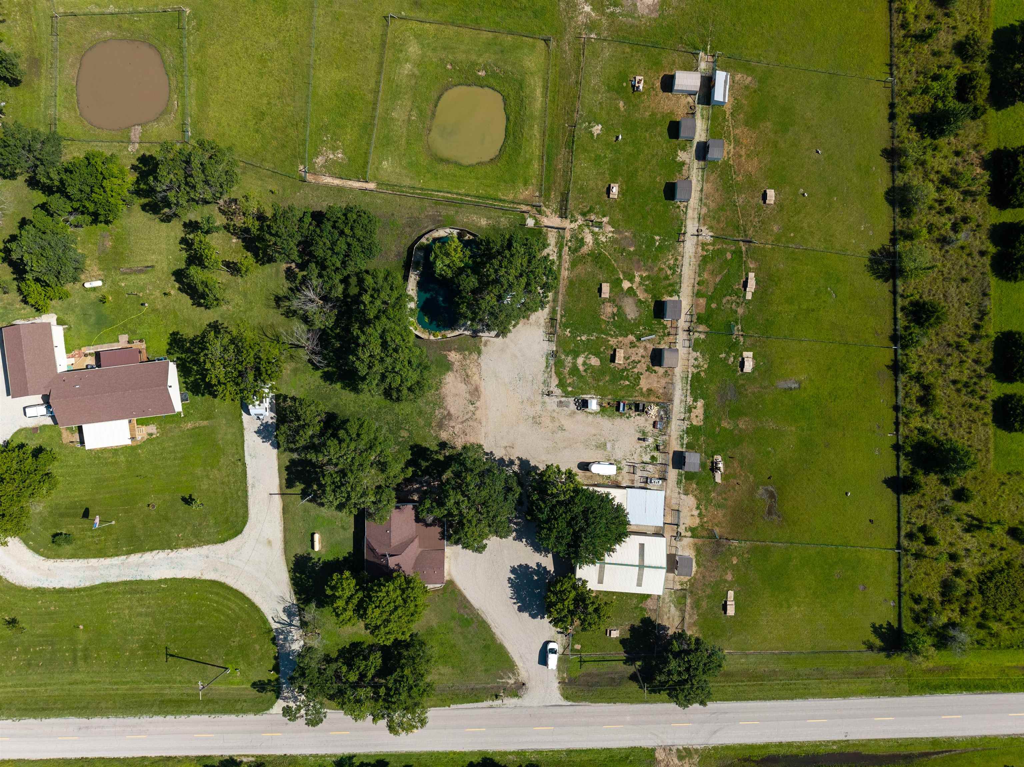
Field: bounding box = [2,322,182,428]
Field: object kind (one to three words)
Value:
house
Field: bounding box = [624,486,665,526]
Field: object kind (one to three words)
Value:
shed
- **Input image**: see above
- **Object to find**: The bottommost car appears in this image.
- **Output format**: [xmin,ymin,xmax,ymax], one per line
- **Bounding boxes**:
[546,641,558,669]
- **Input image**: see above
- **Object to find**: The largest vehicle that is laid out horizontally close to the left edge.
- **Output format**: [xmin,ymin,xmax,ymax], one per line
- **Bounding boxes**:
[24,403,54,417]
